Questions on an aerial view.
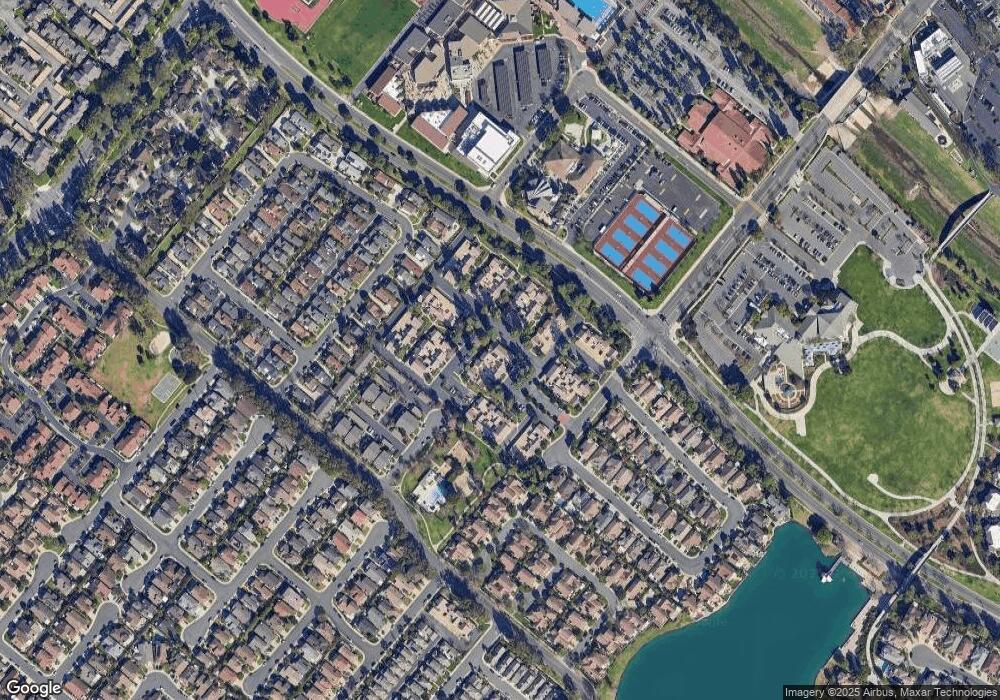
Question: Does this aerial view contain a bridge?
Yes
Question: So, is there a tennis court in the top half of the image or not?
Yes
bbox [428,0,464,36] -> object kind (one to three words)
building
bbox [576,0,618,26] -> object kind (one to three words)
swimming pool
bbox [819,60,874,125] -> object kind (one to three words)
bridge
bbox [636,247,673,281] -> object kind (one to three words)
tennis court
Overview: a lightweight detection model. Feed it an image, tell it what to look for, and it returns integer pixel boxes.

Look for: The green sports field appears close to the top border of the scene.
[311,0,418,88]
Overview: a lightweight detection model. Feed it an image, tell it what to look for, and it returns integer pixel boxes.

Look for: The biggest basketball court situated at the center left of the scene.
[152,372,182,401]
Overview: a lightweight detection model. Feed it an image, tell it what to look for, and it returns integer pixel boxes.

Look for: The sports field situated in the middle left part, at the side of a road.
[98,330,184,426]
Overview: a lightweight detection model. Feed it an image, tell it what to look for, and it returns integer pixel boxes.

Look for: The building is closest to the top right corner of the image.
[921,28,963,88]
